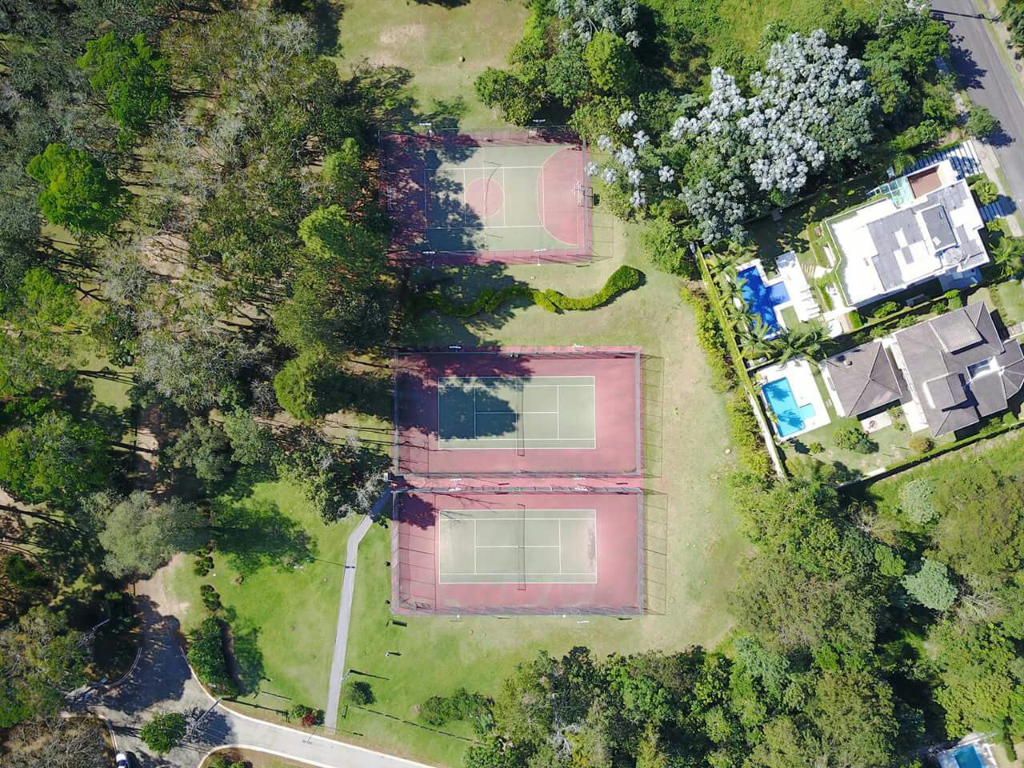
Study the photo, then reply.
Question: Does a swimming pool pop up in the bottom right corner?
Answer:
Yes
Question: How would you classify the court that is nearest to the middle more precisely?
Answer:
tennis court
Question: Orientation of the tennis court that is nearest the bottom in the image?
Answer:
from side to side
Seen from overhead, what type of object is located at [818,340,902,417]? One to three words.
building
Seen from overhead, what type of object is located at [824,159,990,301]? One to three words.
house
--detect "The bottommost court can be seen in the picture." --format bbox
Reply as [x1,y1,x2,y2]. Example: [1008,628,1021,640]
[392,490,644,615]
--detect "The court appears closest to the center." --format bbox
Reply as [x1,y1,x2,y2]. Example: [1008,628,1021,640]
[391,346,643,478]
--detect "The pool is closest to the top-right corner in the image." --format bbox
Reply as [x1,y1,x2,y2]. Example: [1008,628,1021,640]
[736,251,820,340]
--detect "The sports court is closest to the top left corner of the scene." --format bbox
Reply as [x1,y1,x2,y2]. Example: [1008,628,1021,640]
[380,132,592,266]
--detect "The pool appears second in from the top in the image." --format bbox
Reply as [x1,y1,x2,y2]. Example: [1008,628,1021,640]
[758,357,831,442]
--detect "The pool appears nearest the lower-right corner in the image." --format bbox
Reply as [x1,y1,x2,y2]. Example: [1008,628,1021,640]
[938,747,989,768]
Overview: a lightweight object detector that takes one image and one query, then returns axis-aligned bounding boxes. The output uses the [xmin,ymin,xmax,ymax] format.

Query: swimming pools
[758,357,831,442]
[938,747,989,768]
[736,251,820,340]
